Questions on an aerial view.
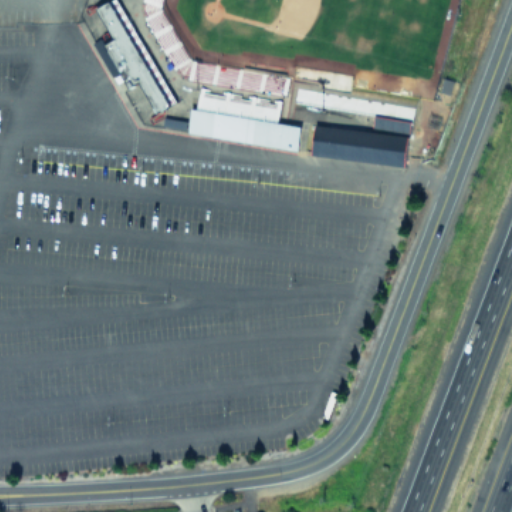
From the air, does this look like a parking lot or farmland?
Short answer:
parking lot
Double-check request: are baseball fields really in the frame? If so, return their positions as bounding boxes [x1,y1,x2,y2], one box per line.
[164,0,460,99]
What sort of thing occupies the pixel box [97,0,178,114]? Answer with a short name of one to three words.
building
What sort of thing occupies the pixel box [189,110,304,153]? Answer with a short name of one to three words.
building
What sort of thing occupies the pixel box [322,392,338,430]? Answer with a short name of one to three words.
vehicle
